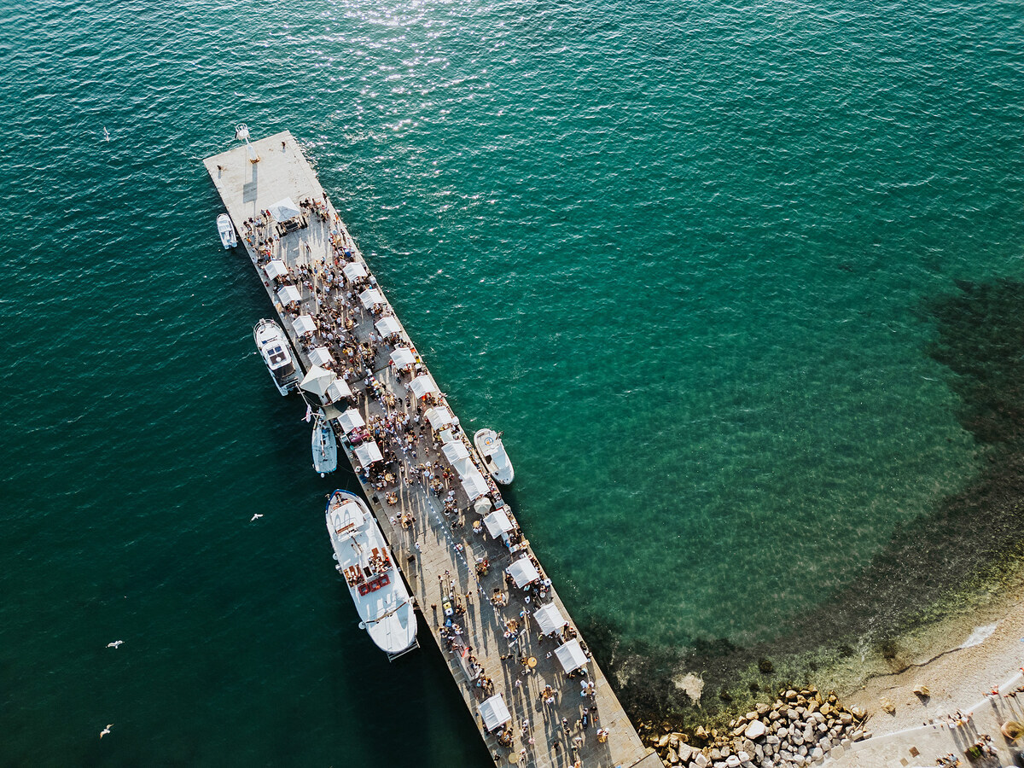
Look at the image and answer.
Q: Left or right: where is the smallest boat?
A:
left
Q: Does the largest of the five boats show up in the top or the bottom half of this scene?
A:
bottom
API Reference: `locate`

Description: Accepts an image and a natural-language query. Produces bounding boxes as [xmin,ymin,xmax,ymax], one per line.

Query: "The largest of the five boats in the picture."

[320,488,420,663]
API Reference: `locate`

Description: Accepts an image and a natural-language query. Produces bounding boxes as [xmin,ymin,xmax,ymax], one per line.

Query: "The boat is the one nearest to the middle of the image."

[474,428,511,489]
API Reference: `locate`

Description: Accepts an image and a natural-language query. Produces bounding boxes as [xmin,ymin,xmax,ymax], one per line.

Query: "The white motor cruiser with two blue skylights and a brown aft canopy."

[255,318,304,396]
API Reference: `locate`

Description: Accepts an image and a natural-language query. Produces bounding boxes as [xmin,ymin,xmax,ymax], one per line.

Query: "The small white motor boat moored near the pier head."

[217,214,241,252]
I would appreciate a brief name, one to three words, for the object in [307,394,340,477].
boat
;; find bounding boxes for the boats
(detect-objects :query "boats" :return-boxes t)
[217,214,241,252]
[474,428,511,489]
[255,318,304,396]
[307,394,340,477]
[320,488,420,663]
